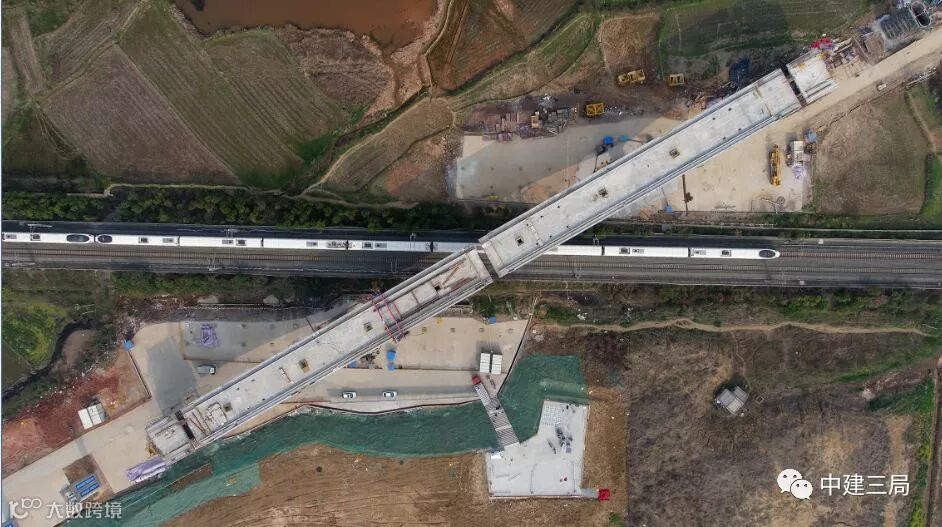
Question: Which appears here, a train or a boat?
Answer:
train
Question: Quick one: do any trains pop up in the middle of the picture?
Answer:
Yes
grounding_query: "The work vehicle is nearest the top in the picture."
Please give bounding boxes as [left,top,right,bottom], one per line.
[594,133,616,154]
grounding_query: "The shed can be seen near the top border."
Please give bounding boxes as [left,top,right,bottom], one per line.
[875,6,919,43]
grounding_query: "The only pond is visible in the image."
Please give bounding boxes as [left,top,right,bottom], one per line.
[178,0,436,53]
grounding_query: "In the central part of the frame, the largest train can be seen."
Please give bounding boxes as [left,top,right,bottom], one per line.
[97,234,779,260]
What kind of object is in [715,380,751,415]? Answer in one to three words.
shed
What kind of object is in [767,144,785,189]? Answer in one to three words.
vehicle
